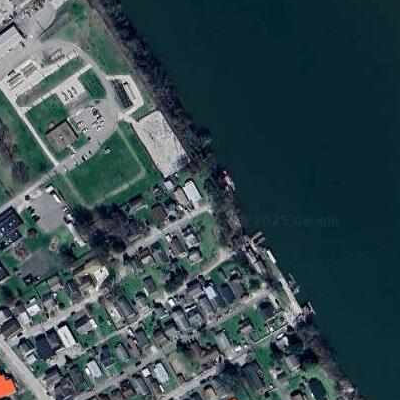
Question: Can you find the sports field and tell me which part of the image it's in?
left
